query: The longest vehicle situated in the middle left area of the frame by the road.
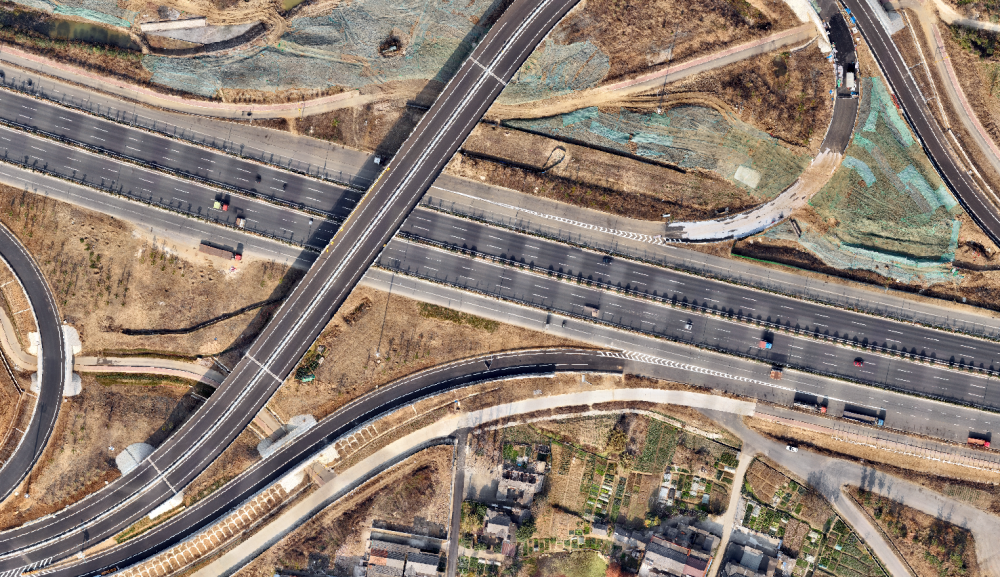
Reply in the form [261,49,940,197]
[198,243,242,260]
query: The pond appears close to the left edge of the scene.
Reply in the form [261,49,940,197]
[18,18,141,50]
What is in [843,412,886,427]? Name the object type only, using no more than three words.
vehicle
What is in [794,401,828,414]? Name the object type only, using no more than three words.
vehicle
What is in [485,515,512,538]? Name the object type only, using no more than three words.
house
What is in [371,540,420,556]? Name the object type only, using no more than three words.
shed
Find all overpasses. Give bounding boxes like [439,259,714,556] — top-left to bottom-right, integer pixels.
[0,0,581,577]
